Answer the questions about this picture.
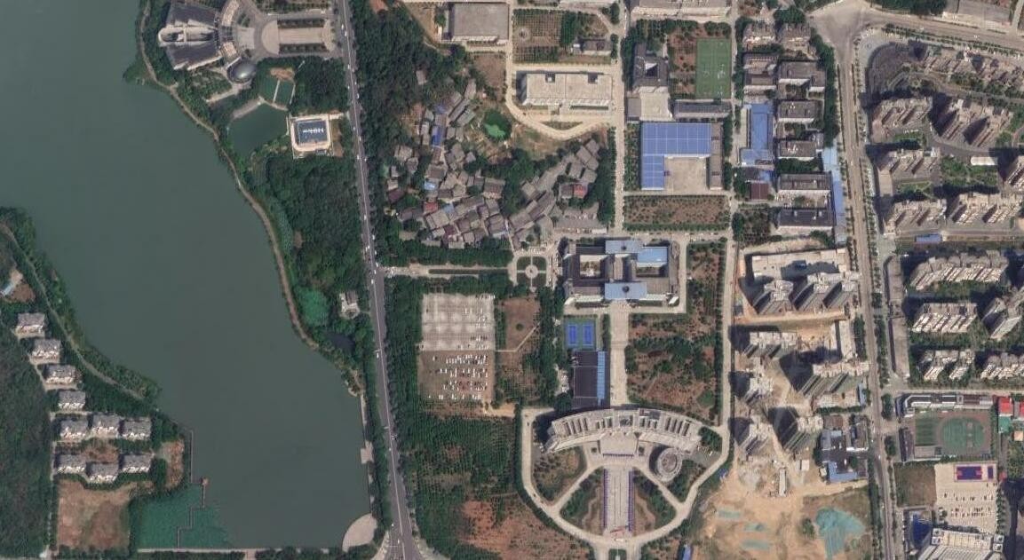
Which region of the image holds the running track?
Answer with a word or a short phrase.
bottom right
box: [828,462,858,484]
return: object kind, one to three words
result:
shed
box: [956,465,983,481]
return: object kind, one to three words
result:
basketball court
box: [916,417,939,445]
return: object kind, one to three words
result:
sports field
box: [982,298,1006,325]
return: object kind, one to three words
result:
building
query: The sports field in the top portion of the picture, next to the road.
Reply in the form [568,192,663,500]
[696,38,731,98]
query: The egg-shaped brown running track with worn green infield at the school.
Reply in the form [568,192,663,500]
[913,410,992,462]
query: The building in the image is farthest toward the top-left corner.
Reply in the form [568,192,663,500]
[156,0,239,72]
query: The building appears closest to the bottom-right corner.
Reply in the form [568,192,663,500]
[922,526,1004,560]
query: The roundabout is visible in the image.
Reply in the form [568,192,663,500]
[517,257,547,287]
